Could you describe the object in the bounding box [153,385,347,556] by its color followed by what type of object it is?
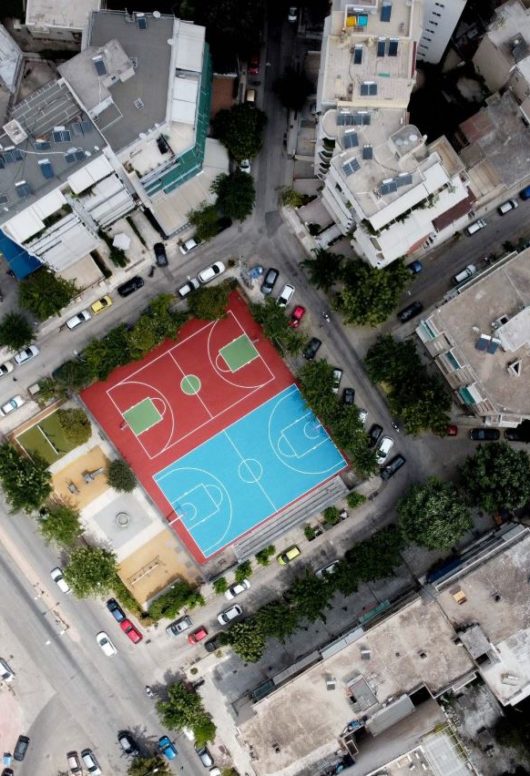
blue basketball court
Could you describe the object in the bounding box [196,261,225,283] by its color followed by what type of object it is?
white car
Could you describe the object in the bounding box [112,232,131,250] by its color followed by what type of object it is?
white umbrella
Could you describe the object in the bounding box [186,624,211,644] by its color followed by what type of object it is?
red car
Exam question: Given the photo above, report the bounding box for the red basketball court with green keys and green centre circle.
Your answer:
[80,292,349,564]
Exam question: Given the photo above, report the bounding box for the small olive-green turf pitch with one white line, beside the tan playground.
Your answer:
[16,408,86,468]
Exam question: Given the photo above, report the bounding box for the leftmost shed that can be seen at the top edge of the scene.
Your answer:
[0,23,37,103]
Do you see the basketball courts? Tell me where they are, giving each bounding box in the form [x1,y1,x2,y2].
[153,385,347,556]
[80,292,349,564]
